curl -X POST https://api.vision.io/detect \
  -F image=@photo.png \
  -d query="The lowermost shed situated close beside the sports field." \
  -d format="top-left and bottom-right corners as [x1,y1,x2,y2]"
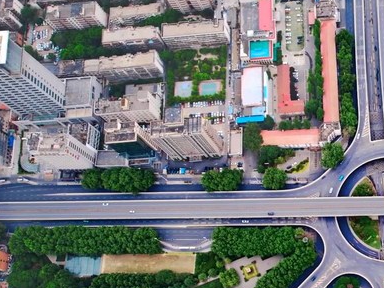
[67,256,105,275]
